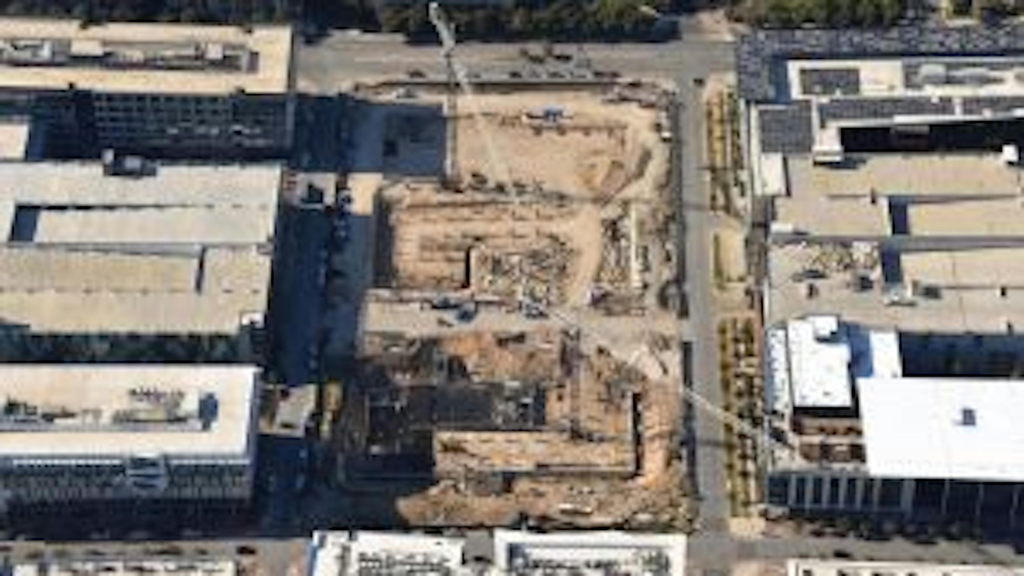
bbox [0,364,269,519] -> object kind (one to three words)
building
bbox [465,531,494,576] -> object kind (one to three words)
building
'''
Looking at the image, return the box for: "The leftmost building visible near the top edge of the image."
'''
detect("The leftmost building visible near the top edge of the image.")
[0,16,297,165]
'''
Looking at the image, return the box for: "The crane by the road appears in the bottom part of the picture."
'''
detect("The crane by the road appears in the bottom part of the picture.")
[524,299,754,442]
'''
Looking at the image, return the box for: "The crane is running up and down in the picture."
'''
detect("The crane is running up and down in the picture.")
[430,2,518,197]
